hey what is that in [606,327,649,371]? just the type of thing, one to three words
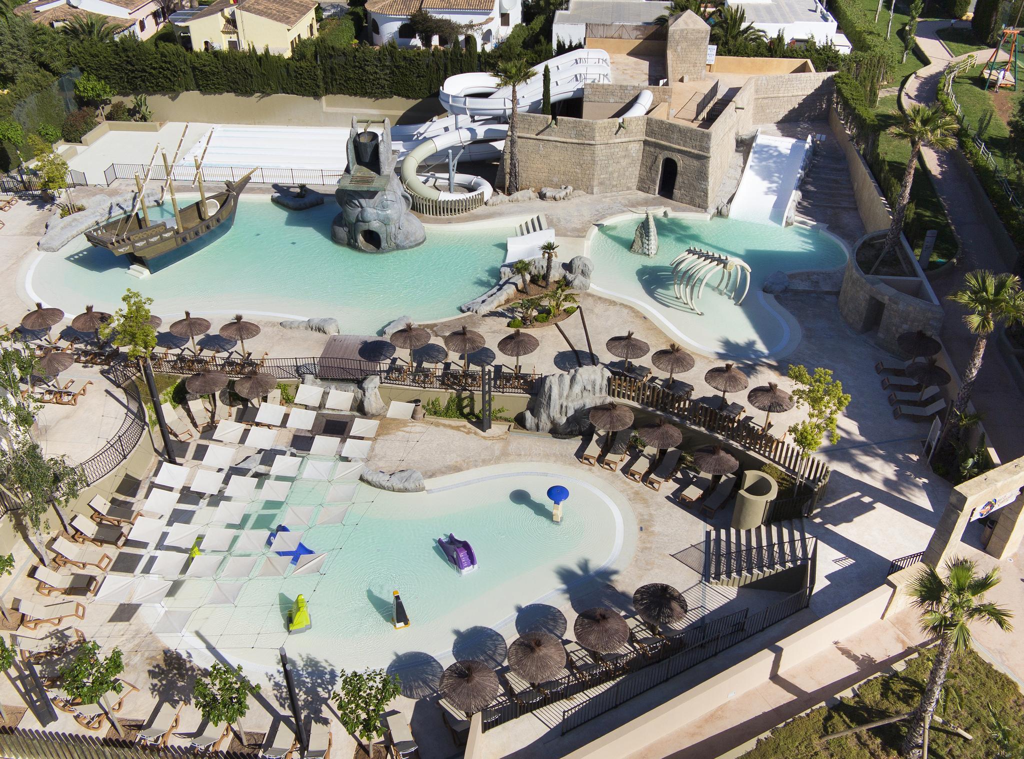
umbrella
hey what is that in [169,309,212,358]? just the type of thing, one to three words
umbrella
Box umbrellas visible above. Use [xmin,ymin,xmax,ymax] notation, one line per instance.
[636,418,683,468]
[390,319,432,368]
[703,360,749,404]
[437,661,500,722]
[169,309,212,358]
[898,326,943,361]
[233,367,276,408]
[571,608,629,665]
[506,634,566,693]
[20,302,64,350]
[631,582,689,640]
[651,342,696,387]
[185,363,229,414]
[495,325,538,375]
[749,381,797,426]
[590,399,635,449]
[29,345,77,390]
[68,305,108,352]
[606,327,649,371]
[444,322,486,372]
[903,354,951,405]
[218,314,262,363]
